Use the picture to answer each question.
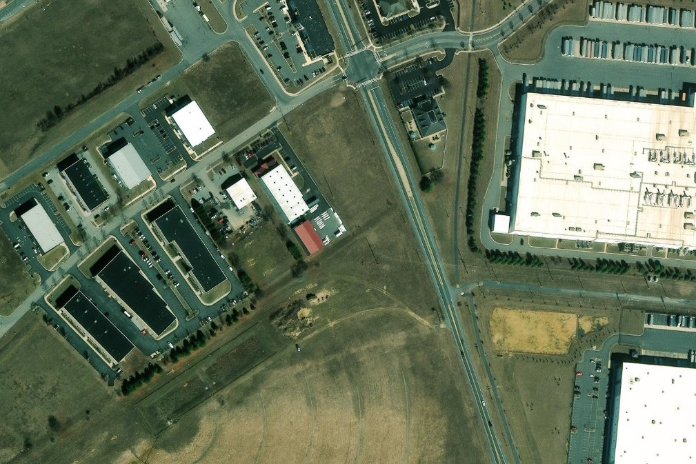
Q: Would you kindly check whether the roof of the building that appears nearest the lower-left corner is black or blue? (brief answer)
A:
black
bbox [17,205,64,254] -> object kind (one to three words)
building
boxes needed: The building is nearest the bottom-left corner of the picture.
[60,291,135,366]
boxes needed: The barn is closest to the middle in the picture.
[292,221,323,255]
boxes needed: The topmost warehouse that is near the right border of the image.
[509,93,696,250]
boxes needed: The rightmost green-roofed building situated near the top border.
[375,0,409,18]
